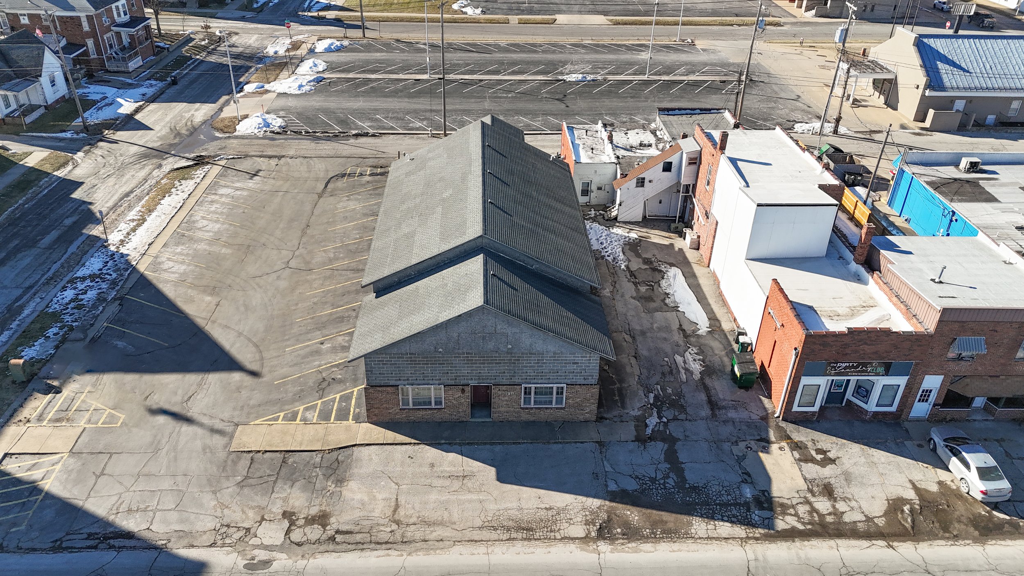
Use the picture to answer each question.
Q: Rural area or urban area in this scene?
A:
urban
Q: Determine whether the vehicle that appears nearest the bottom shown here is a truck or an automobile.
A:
automobile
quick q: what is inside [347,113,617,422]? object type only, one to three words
building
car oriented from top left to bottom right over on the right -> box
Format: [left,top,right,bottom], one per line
[925,428,1018,504]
